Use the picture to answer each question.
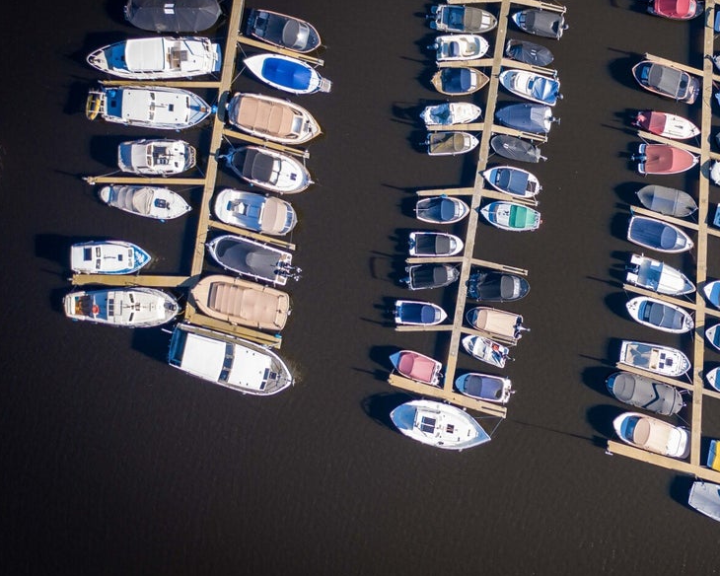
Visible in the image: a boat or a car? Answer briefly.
boat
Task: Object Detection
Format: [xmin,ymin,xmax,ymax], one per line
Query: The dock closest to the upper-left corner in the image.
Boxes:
[61,0,328,350]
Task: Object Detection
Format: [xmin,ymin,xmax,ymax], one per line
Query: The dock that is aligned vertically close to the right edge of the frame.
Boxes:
[603,0,720,487]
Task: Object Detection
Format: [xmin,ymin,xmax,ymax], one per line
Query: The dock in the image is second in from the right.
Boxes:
[385,0,570,422]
